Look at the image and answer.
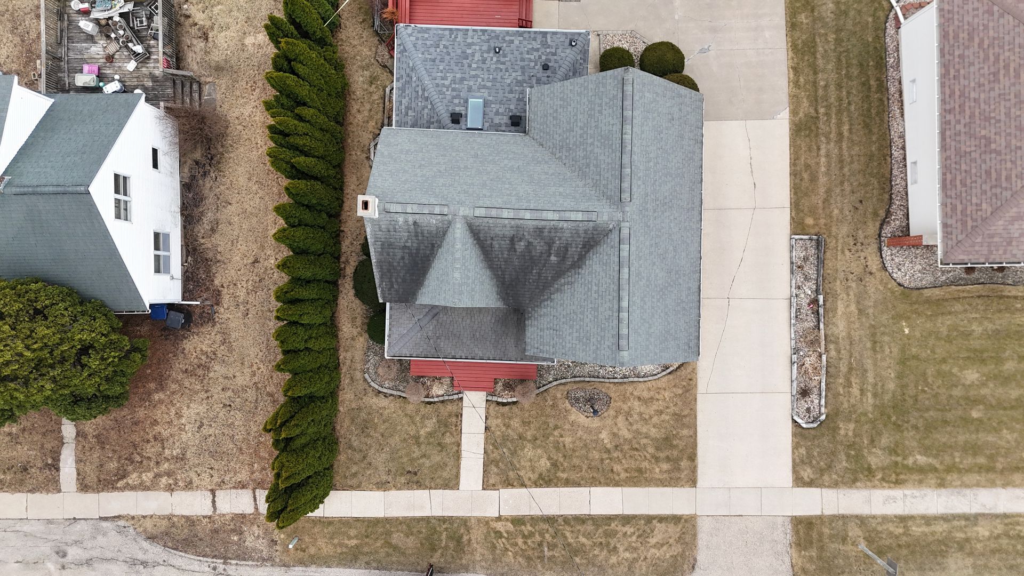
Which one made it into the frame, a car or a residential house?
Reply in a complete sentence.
It is a residential house that can be seen here.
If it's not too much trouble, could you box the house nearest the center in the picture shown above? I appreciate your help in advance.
[358,23,705,367]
